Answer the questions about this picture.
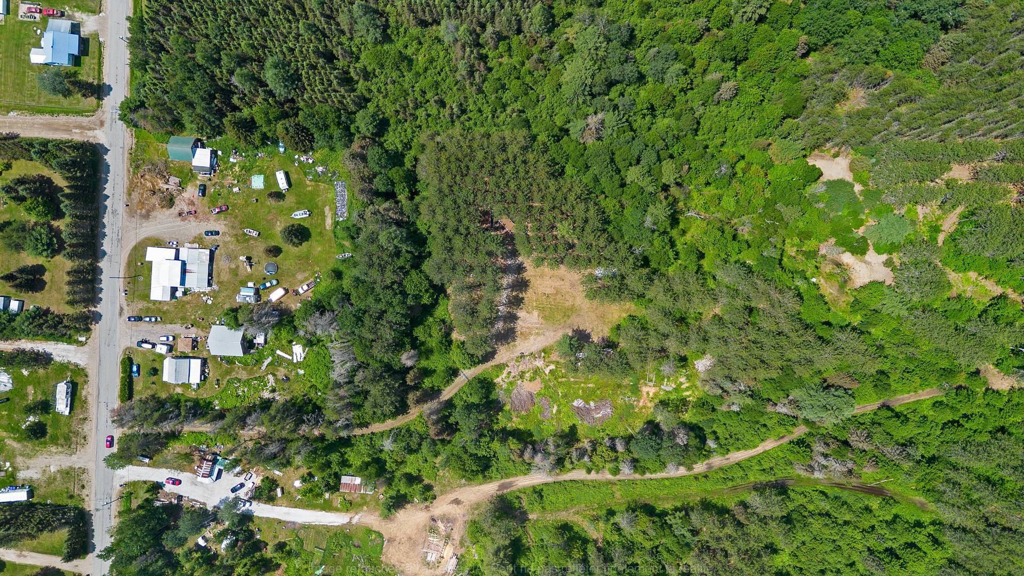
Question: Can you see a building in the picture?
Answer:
Yes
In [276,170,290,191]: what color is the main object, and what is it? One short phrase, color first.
white vehicle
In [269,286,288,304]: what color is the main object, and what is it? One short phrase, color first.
white vehicle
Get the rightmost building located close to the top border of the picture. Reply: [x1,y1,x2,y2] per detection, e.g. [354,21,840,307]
[29,19,84,68]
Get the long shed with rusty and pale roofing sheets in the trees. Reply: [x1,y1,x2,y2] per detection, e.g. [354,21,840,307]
[341,474,372,493]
